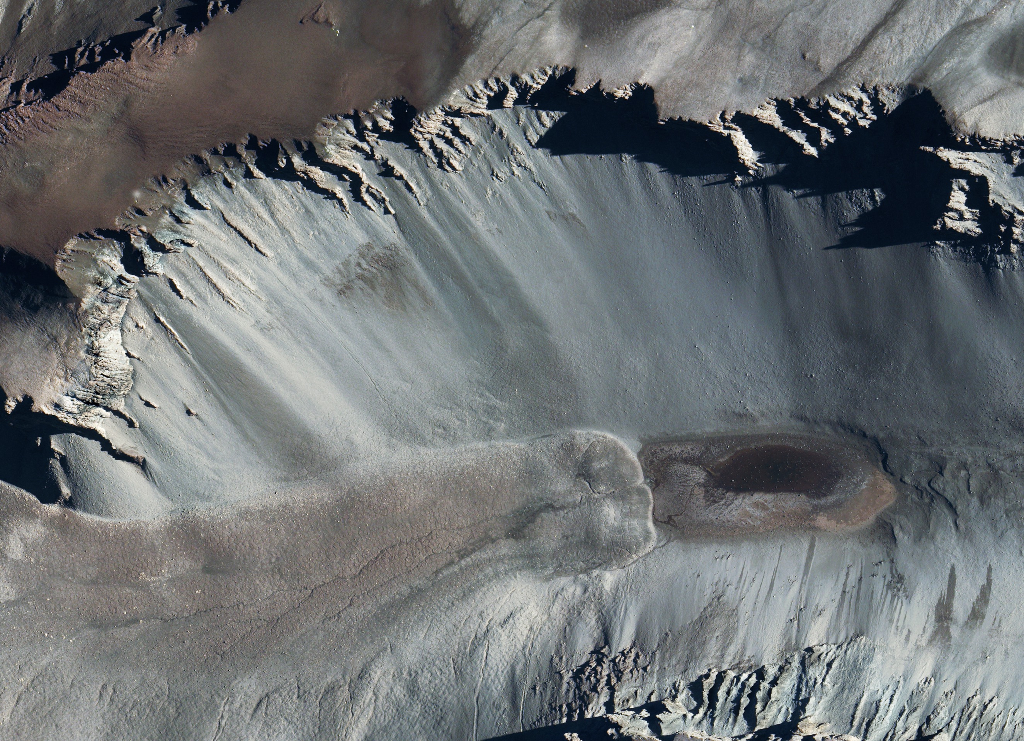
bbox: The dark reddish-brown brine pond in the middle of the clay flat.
[709,445,840,497]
